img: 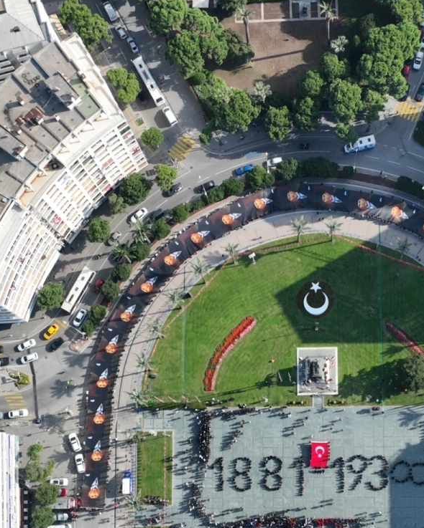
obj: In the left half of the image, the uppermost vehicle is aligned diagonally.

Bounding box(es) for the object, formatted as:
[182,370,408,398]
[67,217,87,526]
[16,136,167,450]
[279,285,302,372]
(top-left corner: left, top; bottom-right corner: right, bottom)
[101,0,117,20]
